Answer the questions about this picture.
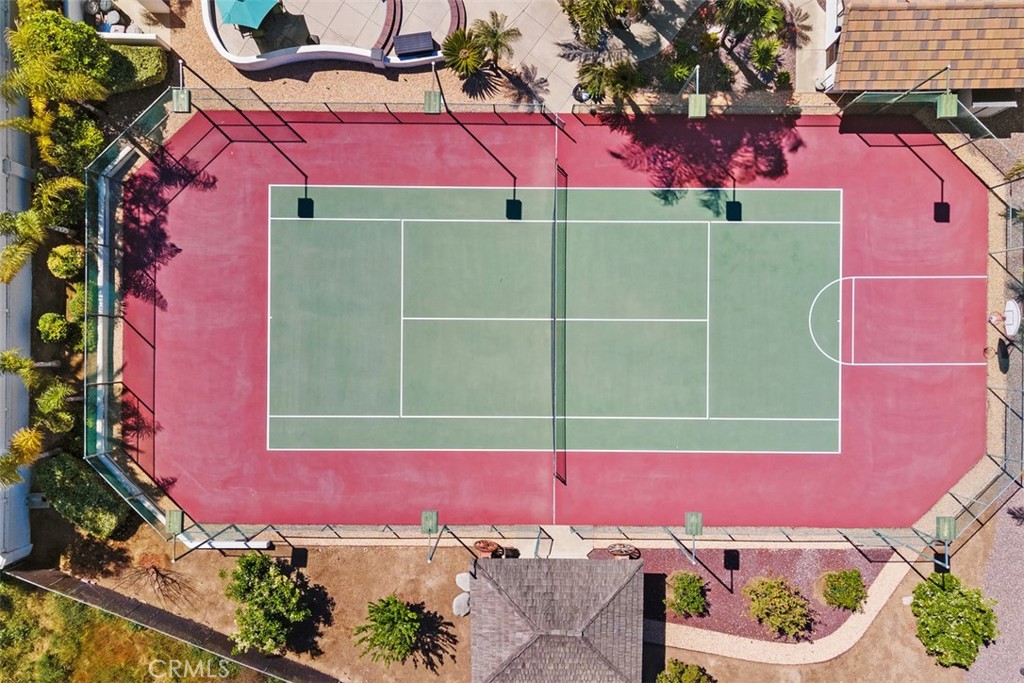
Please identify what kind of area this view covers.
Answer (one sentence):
What you see here is a sports ground.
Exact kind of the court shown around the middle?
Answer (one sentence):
The court shown around the middle is a tennis court.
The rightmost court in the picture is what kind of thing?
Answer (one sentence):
I'd identify the rightmost court as a basketball court.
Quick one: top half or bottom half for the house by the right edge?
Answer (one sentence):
The top half of the photo is where the house by the right edge is.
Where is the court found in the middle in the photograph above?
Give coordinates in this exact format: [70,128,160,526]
[122,110,989,528]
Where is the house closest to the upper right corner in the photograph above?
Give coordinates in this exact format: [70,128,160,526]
[824,0,1024,93]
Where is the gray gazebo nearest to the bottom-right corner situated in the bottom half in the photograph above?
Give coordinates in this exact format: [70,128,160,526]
[471,546,645,683]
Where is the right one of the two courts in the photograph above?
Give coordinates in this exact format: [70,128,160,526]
[808,276,988,365]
